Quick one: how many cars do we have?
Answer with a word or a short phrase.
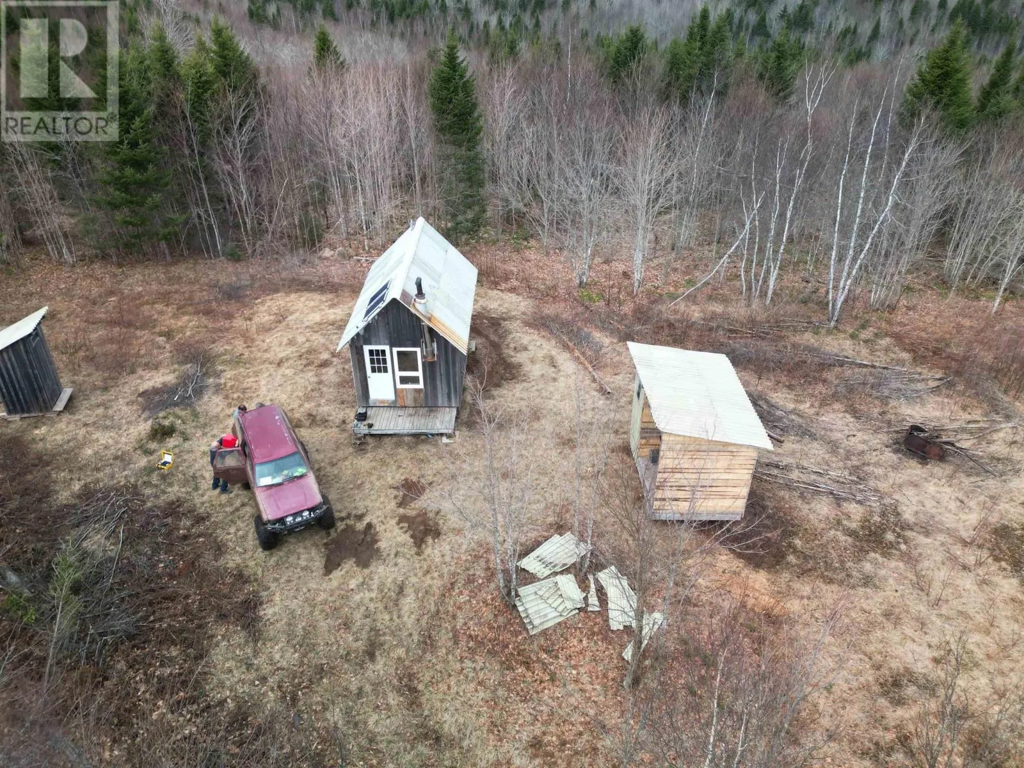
1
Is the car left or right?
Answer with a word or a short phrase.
left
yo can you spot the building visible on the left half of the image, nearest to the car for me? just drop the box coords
[337,212,476,438]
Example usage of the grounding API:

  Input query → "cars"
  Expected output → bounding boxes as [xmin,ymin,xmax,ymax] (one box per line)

[210,404,343,557]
